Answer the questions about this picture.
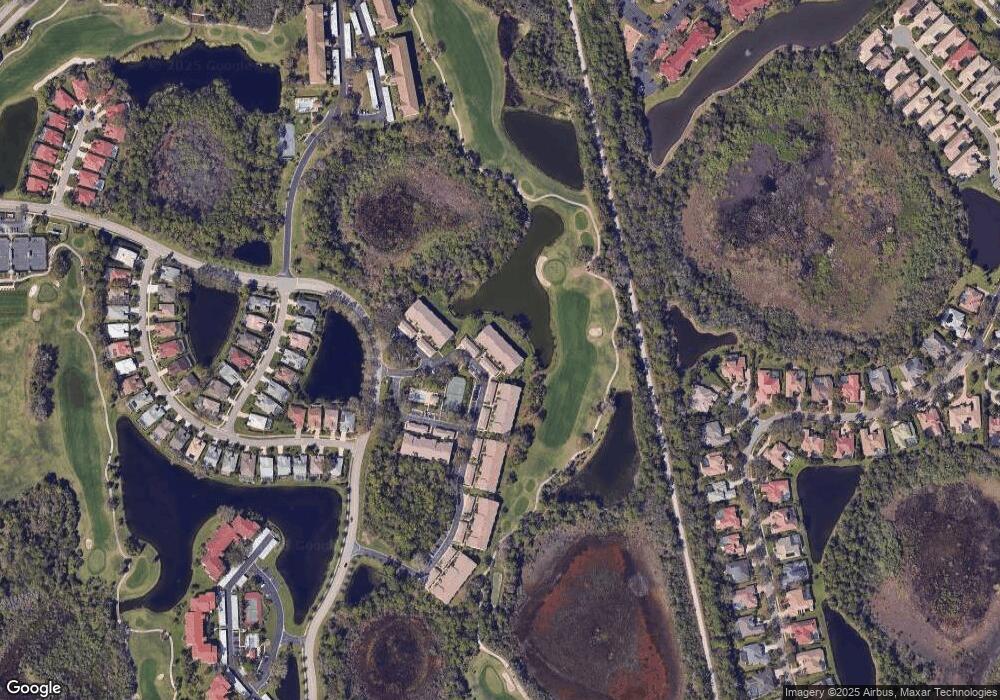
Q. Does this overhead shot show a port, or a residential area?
residential area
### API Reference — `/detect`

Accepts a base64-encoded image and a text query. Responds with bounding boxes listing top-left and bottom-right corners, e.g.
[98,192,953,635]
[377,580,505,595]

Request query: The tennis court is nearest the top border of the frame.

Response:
[281,123,295,159]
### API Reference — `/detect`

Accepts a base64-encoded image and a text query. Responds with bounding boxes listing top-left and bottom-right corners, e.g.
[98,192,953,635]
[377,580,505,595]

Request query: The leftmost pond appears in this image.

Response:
[0,97,38,193]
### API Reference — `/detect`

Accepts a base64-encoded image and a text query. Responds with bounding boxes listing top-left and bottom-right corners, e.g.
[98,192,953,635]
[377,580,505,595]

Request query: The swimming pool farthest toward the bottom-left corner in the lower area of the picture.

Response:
[245,633,259,648]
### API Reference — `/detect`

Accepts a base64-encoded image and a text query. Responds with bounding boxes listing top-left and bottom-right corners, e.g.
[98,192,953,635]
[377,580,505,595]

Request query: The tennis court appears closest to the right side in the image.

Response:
[447,376,467,408]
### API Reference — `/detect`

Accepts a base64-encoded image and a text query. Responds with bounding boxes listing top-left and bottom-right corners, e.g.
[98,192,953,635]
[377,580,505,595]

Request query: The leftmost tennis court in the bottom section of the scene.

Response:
[244,593,262,624]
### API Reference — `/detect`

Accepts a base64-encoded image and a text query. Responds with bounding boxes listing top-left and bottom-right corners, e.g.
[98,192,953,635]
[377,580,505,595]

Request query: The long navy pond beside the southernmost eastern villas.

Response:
[822,602,878,700]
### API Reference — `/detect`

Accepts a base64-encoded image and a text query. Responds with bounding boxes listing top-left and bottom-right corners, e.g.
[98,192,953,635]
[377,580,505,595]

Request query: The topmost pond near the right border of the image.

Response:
[960,186,1000,271]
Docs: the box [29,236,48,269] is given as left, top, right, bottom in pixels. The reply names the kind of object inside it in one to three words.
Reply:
tennis court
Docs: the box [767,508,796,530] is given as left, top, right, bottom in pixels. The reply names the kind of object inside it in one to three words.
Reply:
house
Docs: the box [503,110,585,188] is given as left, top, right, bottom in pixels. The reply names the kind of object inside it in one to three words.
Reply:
pond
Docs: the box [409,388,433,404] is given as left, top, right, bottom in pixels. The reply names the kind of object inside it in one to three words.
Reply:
swimming pool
